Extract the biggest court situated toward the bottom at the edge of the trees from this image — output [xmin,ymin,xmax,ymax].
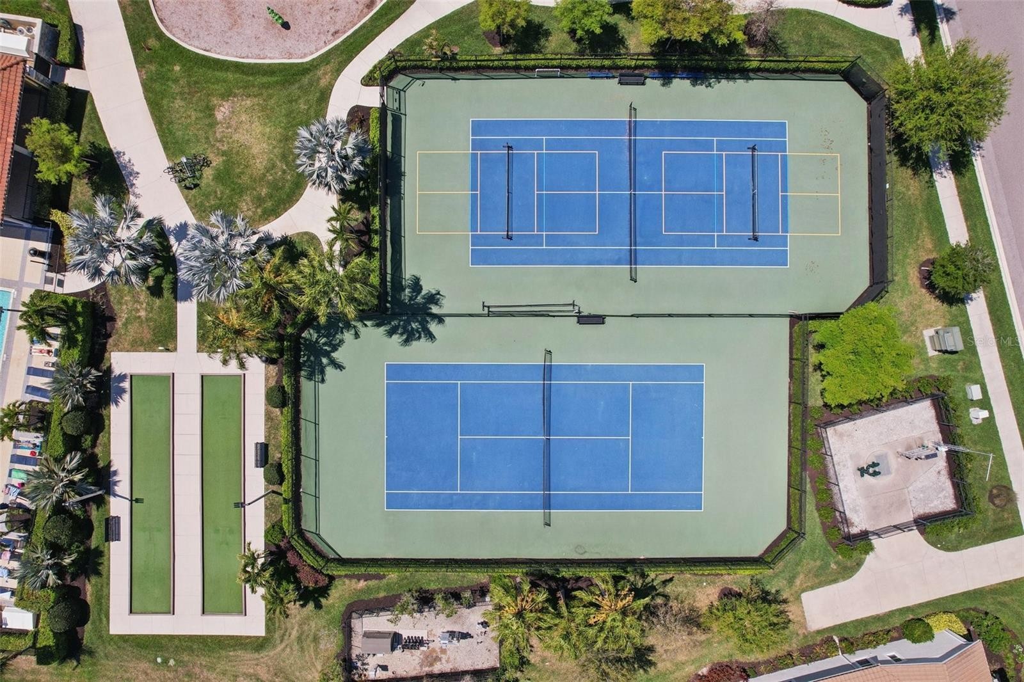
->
[301,315,791,559]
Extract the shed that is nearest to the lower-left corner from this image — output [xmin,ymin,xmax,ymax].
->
[360,630,393,659]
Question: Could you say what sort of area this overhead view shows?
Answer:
sports ground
